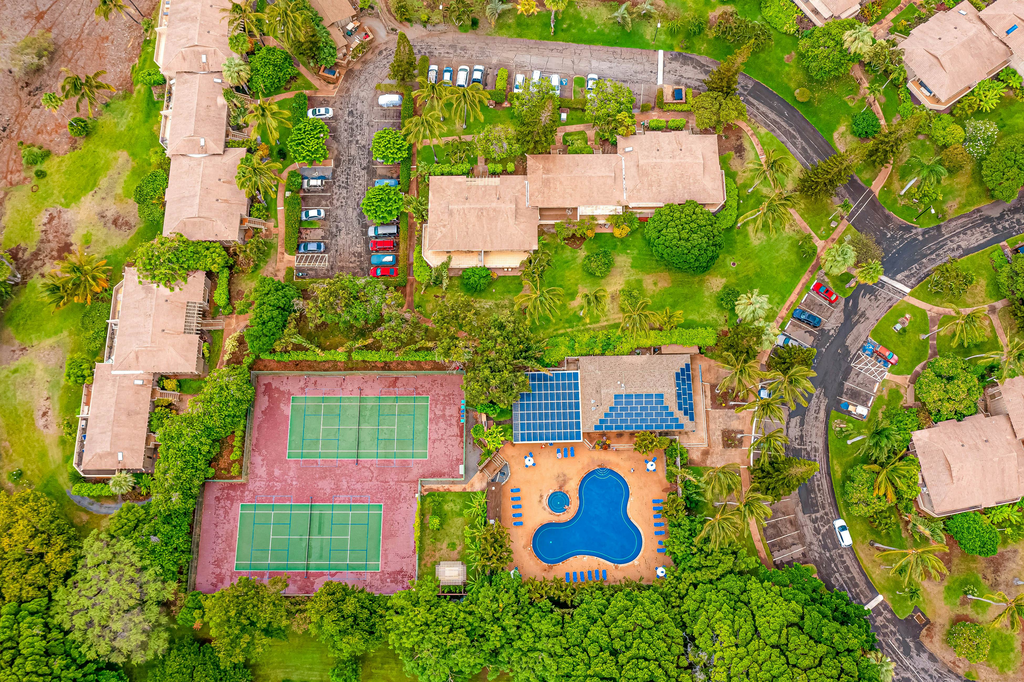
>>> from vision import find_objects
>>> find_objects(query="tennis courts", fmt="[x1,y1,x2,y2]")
[287,388,429,467]
[235,496,383,580]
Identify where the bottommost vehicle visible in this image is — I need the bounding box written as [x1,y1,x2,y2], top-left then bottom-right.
[833,517,852,549]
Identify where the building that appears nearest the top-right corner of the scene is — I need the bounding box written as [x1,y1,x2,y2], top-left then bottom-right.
[888,0,1024,120]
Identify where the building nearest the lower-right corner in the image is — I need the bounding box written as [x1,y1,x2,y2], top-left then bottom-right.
[903,372,1024,517]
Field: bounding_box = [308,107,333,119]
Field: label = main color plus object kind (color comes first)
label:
white vehicle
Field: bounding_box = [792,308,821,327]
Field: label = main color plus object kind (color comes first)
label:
blue car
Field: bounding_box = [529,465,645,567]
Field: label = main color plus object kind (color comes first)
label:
blue swimming pool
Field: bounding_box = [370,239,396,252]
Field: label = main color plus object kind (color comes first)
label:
red vehicle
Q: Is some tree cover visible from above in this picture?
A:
Yes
